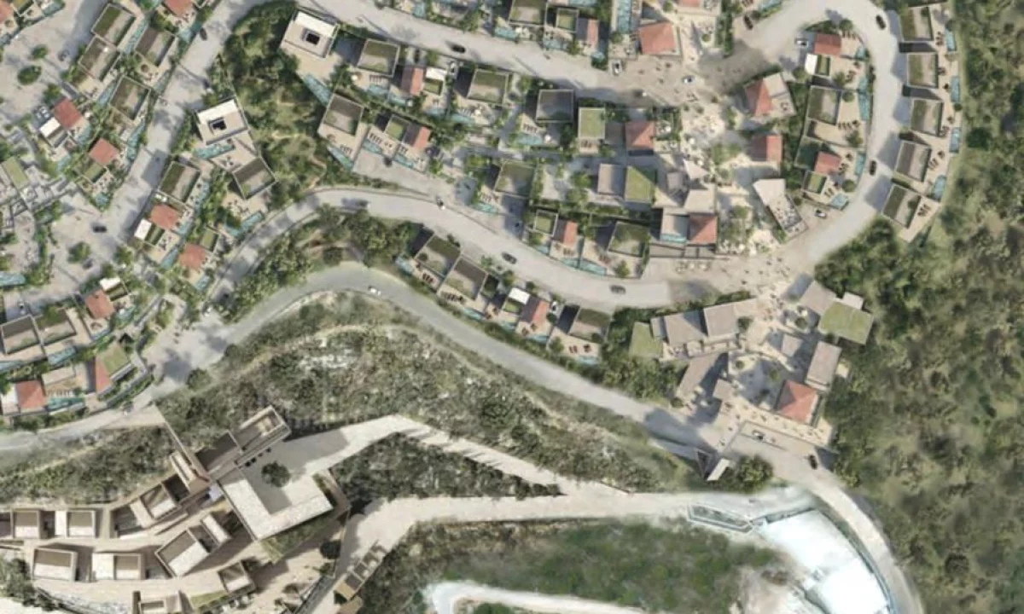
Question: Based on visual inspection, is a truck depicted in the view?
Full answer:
No, the frame has no truck in it.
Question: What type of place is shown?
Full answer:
It's a residential area.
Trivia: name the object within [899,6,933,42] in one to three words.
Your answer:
house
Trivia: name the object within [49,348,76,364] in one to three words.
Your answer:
swimming pool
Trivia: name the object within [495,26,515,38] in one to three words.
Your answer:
swimming pool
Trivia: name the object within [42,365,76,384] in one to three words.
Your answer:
building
